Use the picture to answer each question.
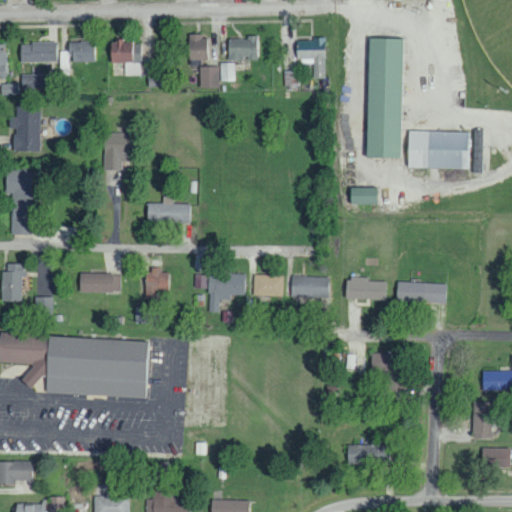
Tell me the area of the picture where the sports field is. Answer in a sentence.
You can find the sports field in the top right area of the picture.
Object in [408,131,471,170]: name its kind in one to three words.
building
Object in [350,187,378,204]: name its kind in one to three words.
barn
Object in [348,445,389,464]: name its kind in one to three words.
house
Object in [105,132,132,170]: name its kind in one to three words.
house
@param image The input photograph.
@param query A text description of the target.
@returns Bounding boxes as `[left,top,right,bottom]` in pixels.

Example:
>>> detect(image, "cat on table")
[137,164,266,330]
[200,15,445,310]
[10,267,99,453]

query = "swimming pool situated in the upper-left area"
[54,119,72,135]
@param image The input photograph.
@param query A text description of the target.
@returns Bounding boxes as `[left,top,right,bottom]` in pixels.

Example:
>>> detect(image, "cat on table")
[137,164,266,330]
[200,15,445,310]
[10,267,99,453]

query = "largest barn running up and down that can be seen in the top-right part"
[367,38,403,158]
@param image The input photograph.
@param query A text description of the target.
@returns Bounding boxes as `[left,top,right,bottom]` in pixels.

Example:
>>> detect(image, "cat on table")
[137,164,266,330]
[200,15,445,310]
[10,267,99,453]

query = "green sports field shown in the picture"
[462,0,512,88]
